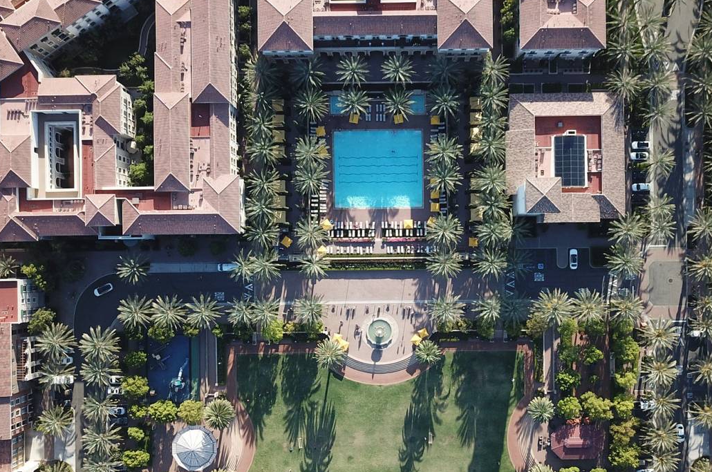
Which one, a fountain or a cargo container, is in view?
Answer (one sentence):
It is a fountain that can be seen here.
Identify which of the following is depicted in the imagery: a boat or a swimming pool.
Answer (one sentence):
Visible in the photo is a swimming pool.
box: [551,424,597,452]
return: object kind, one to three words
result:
building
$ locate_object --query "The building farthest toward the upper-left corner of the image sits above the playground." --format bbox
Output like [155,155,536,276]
[0,0,250,242]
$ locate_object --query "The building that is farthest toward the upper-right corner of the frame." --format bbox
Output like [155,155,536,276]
[512,0,607,75]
